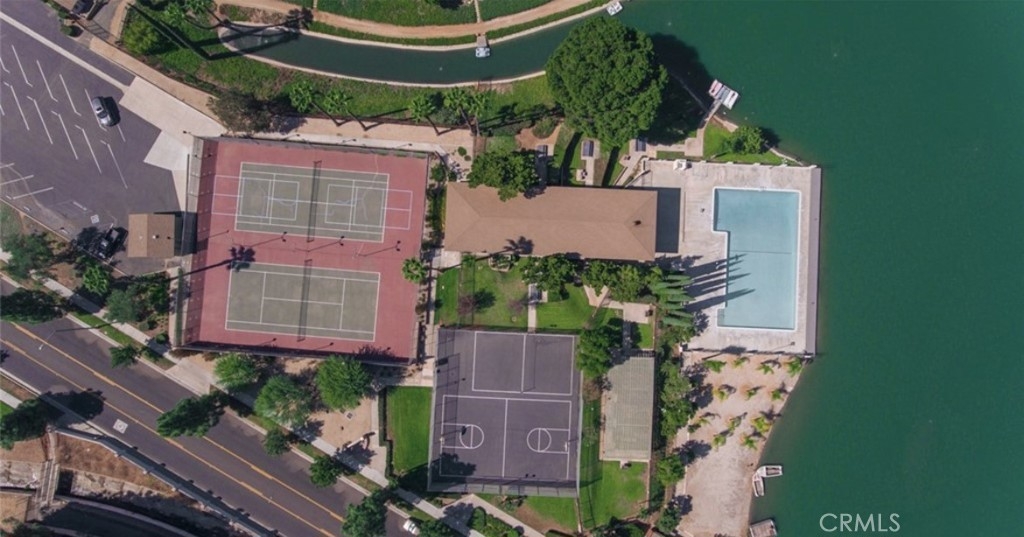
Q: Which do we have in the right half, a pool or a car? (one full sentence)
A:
The one visible in the right half is a pool.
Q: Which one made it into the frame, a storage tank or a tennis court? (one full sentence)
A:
I can see a tennis court in this picture.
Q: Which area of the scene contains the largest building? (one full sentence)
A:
You can find the largest building in the center area of the picture.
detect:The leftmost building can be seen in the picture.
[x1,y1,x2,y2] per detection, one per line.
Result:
[128,214,182,258]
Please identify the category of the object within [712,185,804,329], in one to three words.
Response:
swimming pool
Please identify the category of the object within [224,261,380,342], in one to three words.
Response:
tennis court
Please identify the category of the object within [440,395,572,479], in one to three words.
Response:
basketball court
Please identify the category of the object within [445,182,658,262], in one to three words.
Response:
building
